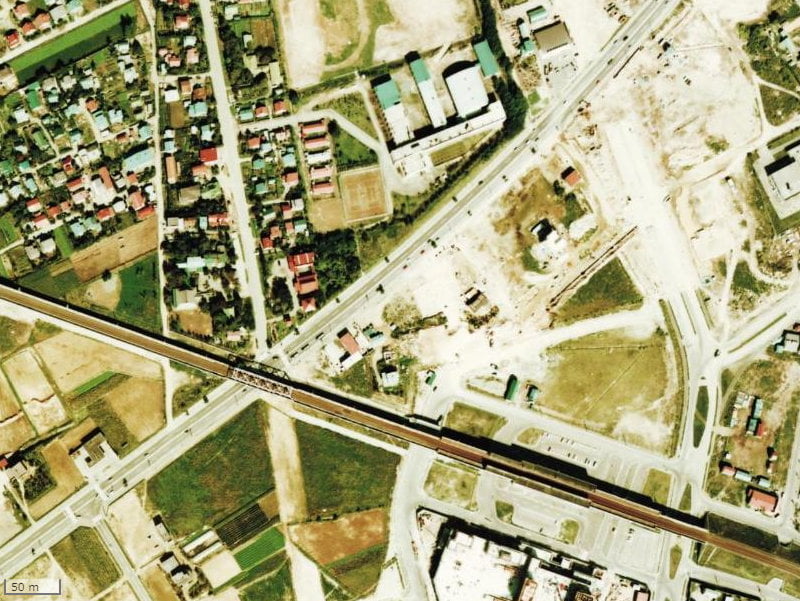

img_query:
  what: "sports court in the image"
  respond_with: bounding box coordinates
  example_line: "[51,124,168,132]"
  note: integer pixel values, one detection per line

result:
[338,165,391,224]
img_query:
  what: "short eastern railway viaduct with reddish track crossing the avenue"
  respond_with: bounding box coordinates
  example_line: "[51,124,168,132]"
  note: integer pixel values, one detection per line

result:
[659,514,711,546]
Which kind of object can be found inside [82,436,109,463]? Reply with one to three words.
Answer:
building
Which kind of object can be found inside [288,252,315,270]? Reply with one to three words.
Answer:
house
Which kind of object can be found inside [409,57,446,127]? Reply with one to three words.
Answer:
building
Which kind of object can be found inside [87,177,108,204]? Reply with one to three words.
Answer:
house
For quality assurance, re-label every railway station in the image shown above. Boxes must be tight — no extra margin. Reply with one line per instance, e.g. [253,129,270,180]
[438,432,666,531]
